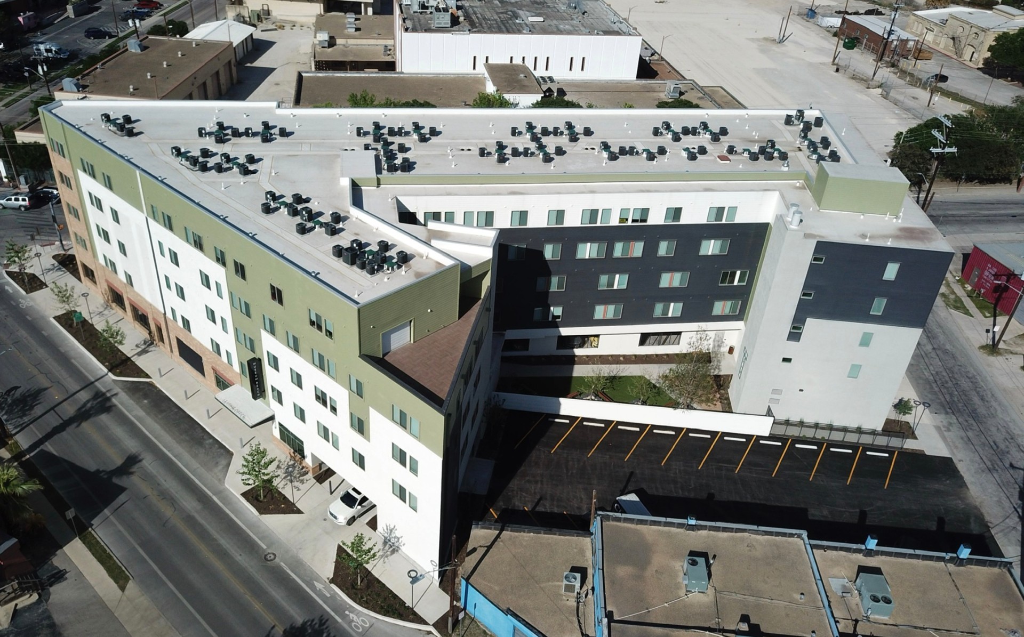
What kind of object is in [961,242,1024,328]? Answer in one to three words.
shed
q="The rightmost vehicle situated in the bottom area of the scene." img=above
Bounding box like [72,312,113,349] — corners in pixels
[610,495,650,516]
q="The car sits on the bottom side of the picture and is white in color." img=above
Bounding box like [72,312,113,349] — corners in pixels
[327,488,375,529]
